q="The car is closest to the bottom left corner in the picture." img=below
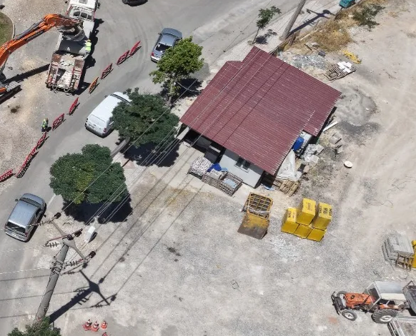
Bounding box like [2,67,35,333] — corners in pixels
[1,193,52,247]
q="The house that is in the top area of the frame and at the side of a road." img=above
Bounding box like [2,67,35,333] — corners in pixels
[168,45,341,190]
